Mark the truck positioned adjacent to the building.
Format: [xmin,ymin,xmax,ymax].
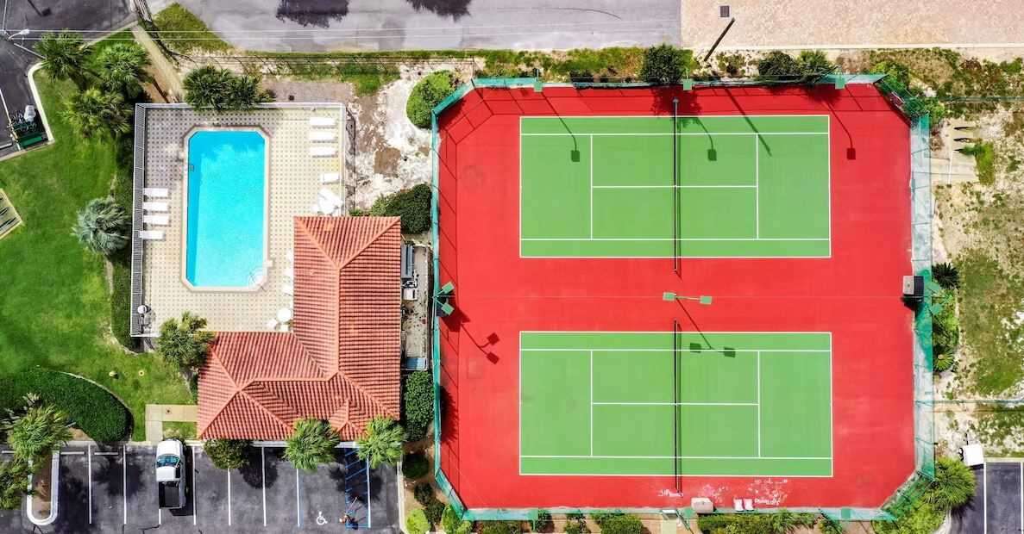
[150,439,189,511]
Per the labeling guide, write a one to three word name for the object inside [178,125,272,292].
swimming pool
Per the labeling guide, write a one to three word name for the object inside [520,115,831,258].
tennis court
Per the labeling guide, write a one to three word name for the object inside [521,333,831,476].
tennis court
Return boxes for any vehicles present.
[150,439,189,511]
[952,435,985,467]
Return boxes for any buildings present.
[195,215,402,446]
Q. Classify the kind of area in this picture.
sports ground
